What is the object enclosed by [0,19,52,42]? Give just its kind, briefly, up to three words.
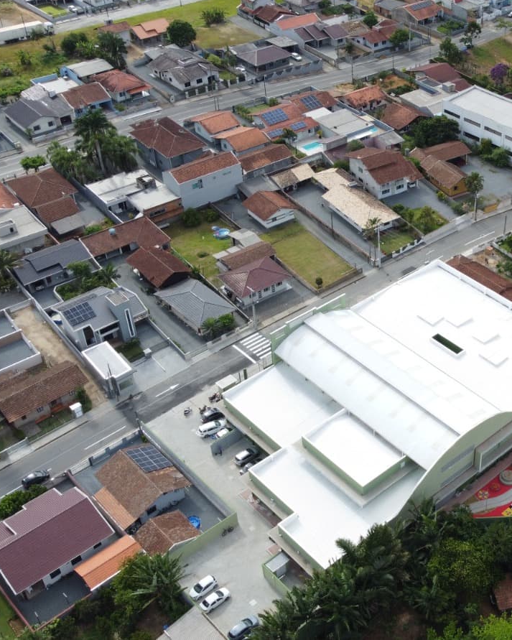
truck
